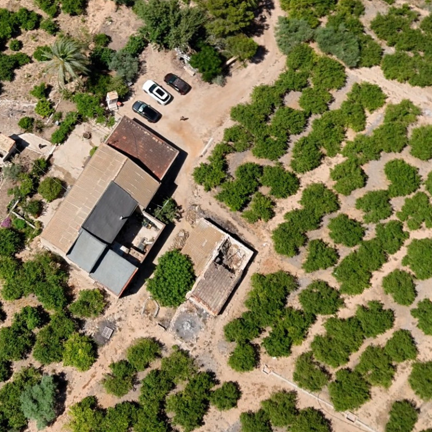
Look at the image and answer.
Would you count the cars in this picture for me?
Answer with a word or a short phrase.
3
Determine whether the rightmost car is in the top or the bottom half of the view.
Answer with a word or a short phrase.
top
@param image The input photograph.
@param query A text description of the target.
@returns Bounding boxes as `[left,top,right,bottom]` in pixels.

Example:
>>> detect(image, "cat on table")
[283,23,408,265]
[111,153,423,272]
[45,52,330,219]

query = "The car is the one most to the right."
[161,72,194,98]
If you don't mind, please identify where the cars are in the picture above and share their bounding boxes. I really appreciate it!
[138,78,173,109]
[161,72,194,98]
[129,98,164,126]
